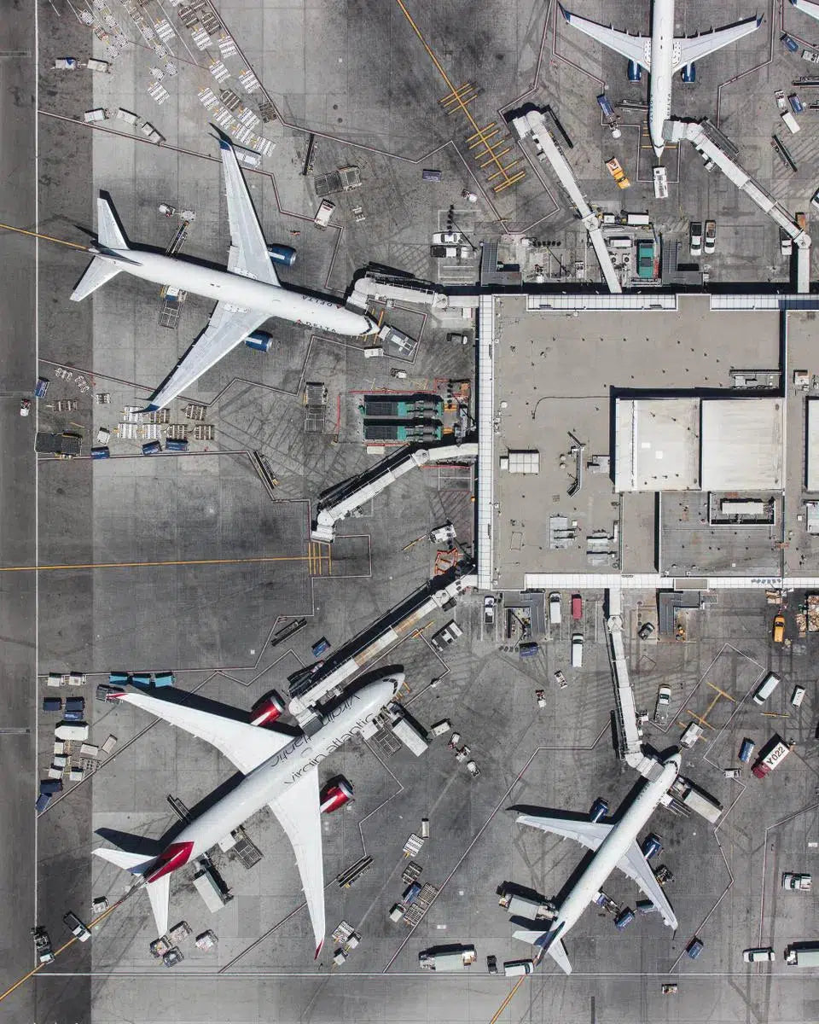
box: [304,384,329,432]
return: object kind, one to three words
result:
work vehicle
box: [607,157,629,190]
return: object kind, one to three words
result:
truck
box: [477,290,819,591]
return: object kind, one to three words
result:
building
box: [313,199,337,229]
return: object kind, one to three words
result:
vehicle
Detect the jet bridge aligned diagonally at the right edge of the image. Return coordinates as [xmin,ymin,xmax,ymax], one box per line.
[662,119,811,294]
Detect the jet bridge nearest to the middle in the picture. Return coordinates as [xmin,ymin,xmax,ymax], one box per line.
[311,442,479,543]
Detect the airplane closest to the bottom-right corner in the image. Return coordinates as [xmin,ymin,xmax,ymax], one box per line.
[512,754,682,974]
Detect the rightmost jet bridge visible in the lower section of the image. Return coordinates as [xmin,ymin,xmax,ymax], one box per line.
[604,588,668,784]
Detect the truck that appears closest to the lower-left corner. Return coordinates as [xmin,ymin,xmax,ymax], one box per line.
[34,926,55,966]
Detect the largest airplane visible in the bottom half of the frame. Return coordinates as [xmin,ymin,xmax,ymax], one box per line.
[92,673,405,961]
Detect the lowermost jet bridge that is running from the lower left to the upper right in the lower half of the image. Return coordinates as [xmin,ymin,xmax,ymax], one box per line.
[287,570,479,737]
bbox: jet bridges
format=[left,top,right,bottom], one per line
[505,110,629,294]
[604,588,668,784]
[662,119,811,294]
[311,442,479,543]
[287,570,479,737]
[342,267,479,315]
